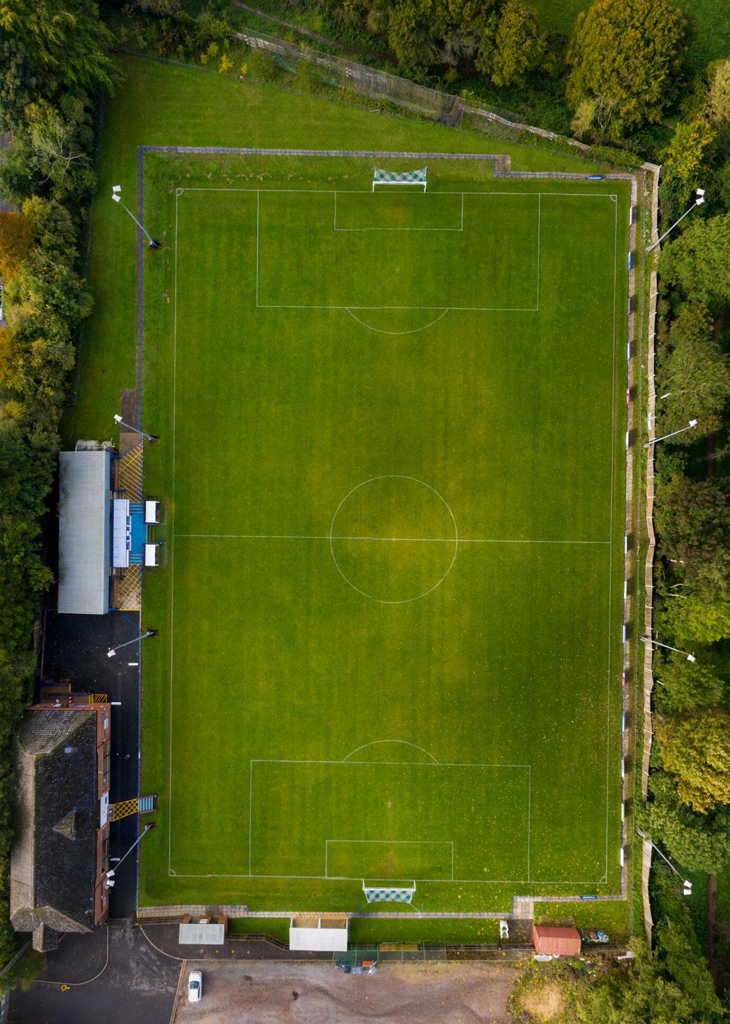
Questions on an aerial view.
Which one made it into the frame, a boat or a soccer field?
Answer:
soccer field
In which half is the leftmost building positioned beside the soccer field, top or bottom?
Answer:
bottom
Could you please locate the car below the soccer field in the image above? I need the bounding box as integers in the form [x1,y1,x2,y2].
[186,974,202,1007]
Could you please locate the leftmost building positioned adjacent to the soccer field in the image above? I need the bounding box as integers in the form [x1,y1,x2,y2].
[9,701,114,952]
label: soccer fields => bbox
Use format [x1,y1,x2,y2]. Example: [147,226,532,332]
[164,187,622,888]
